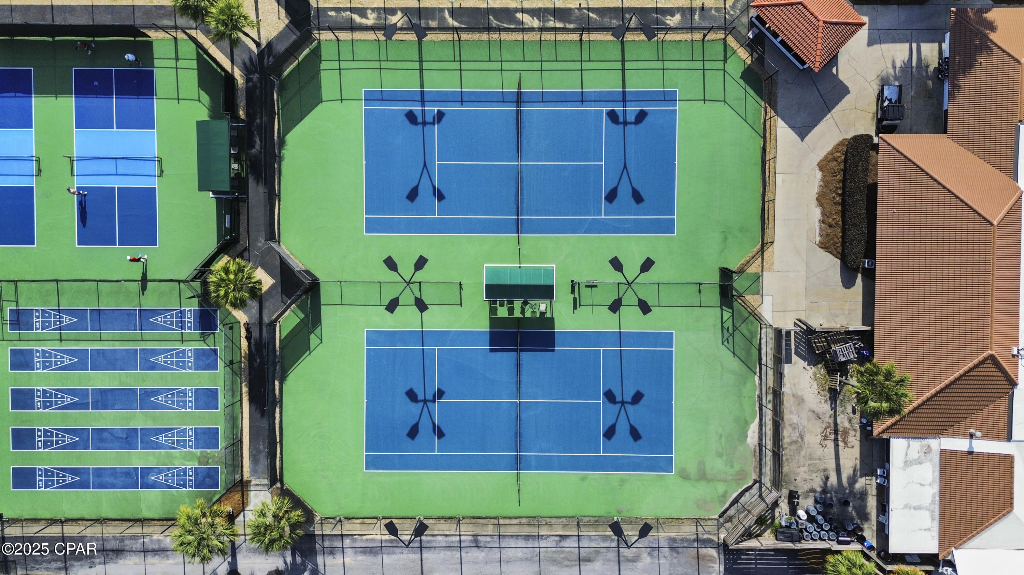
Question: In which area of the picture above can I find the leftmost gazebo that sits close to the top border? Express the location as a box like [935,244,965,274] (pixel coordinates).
[743,0,868,77]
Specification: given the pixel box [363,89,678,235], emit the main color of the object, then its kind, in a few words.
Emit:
blue tennis court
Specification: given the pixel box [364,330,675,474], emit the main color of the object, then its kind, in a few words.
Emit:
blue tennis court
